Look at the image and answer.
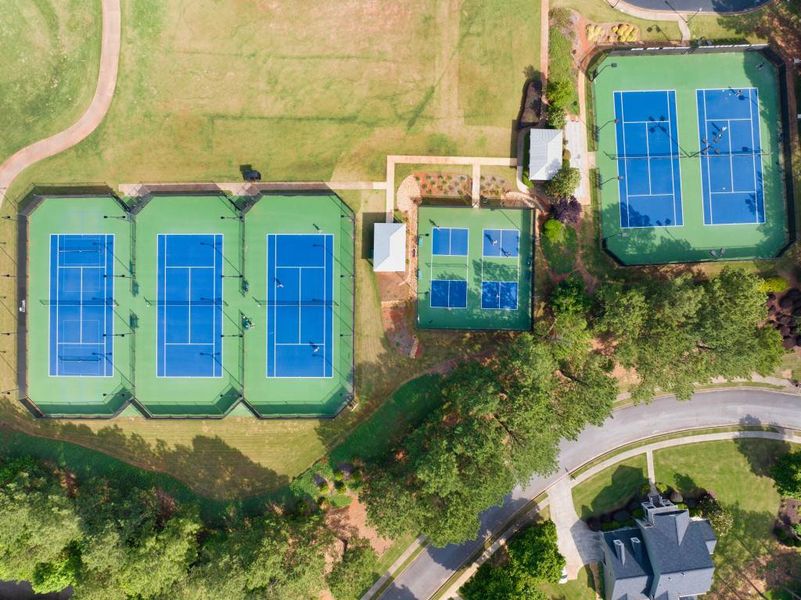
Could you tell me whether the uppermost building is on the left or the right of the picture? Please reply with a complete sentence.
You can find the uppermost building on the right side of the picture.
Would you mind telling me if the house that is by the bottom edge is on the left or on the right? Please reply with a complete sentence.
It is on the right.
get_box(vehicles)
[242,168,259,180]
[555,568,568,588]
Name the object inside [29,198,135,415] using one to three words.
tennis court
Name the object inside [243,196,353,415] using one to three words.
tennis court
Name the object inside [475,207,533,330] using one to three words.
sports court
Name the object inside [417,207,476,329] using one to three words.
sports court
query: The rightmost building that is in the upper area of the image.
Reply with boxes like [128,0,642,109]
[527,129,562,182]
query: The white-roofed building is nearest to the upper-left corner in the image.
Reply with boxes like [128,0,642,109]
[374,223,406,272]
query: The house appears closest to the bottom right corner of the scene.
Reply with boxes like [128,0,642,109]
[596,485,718,600]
